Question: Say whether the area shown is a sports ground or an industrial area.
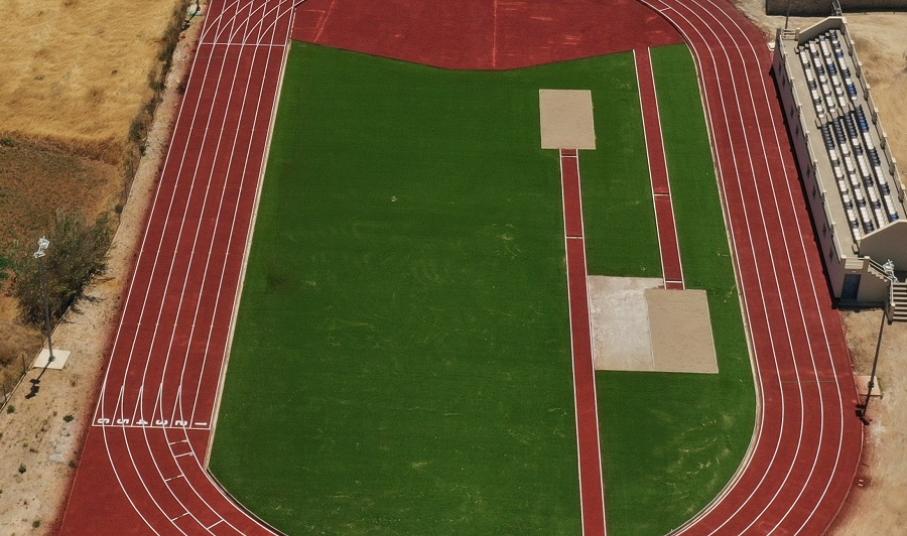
sports ground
